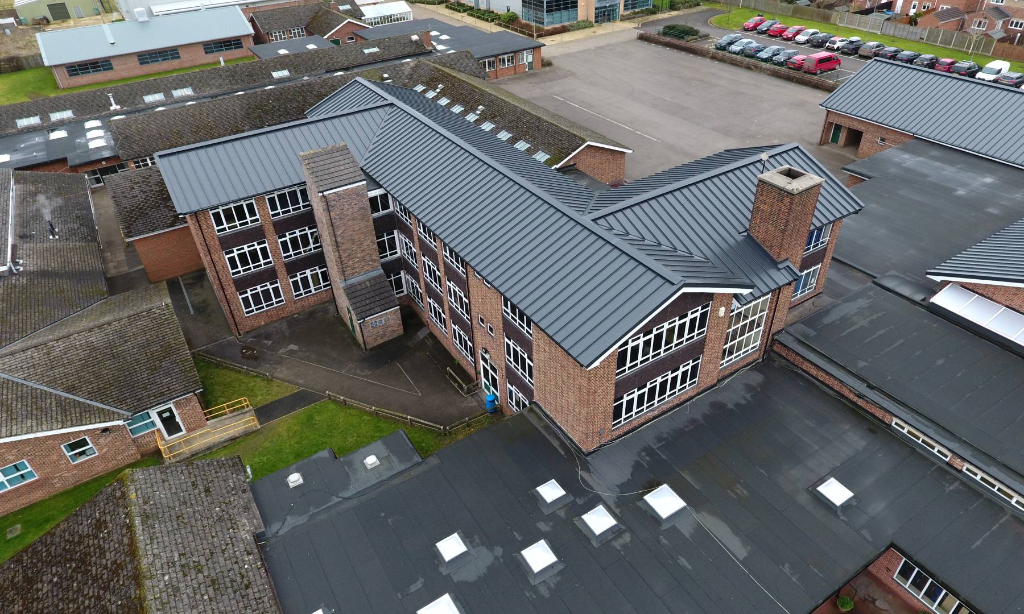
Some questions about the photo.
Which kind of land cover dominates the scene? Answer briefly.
buildings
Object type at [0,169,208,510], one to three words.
building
